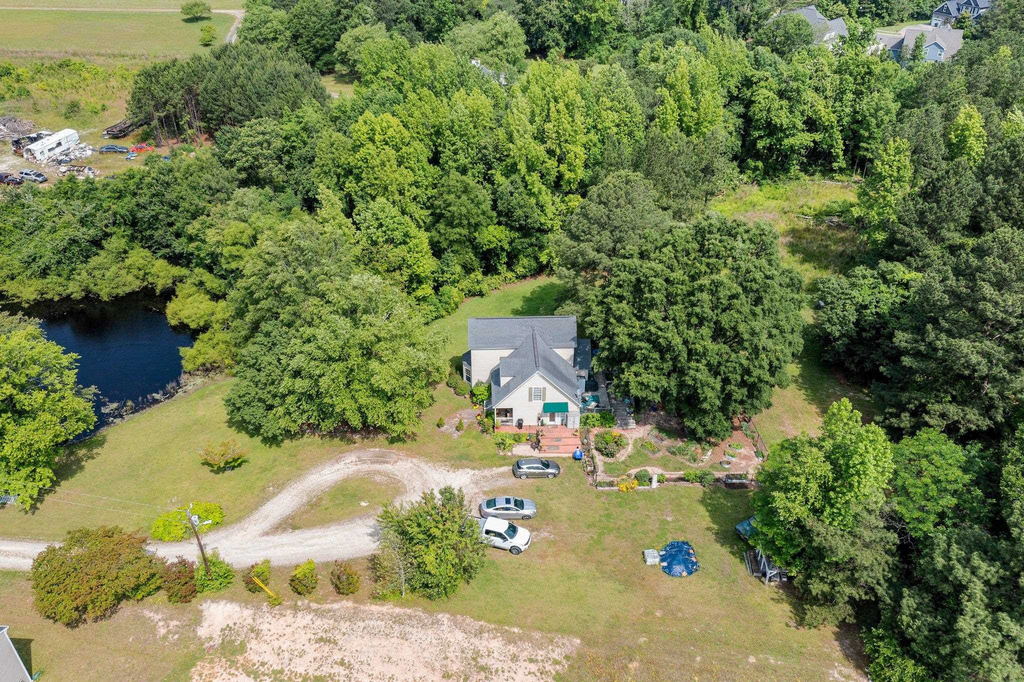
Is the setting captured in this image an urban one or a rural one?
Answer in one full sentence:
From above, the setting appears rural.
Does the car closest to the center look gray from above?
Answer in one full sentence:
Yes, gray is the color of the car closest to the center.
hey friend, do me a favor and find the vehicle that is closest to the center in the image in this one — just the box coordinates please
[513,455,561,479]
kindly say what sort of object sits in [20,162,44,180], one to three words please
car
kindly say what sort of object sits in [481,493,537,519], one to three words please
car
